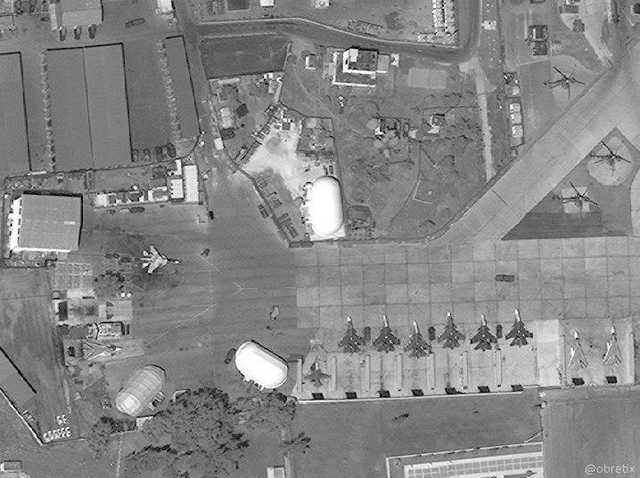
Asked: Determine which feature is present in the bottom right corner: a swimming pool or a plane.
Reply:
plane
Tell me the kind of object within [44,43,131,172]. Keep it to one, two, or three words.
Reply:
building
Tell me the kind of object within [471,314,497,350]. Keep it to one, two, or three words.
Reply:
airplane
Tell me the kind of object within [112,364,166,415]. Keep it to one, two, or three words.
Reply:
hangar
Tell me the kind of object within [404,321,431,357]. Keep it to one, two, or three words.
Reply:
airplane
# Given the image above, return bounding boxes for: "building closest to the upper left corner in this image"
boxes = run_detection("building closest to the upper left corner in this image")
[51,0,102,29]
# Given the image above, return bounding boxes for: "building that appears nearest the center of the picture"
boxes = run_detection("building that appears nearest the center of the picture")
[303,177,342,236]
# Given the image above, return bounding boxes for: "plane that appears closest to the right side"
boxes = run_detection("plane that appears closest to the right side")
[605,326,622,364]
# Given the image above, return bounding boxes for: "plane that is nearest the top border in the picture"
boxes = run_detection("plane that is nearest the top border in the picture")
[141,247,181,274]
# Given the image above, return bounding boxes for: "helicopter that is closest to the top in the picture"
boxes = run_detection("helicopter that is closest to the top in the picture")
[542,64,586,99]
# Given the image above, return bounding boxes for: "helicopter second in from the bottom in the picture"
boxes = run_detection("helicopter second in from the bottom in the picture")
[590,142,631,176]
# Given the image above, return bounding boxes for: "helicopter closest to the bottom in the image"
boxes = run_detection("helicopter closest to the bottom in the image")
[557,182,598,217]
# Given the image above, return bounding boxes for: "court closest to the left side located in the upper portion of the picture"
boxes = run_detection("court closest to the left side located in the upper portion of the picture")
[408,67,446,89]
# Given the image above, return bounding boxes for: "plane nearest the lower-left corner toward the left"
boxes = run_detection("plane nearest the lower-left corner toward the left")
[84,342,122,360]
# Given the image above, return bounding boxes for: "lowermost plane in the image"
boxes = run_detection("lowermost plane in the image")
[303,361,332,387]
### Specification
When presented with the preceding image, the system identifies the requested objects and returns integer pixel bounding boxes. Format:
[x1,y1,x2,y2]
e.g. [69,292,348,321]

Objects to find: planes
[141,247,181,274]
[506,310,532,346]
[569,331,587,368]
[84,342,122,360]
[438,312,464,348]
[404,321,431,357]
[374,316,399,352]
[605,326,622,364]
[303,361,332,387]
[338,317,364,352]
[471,314,497,350]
